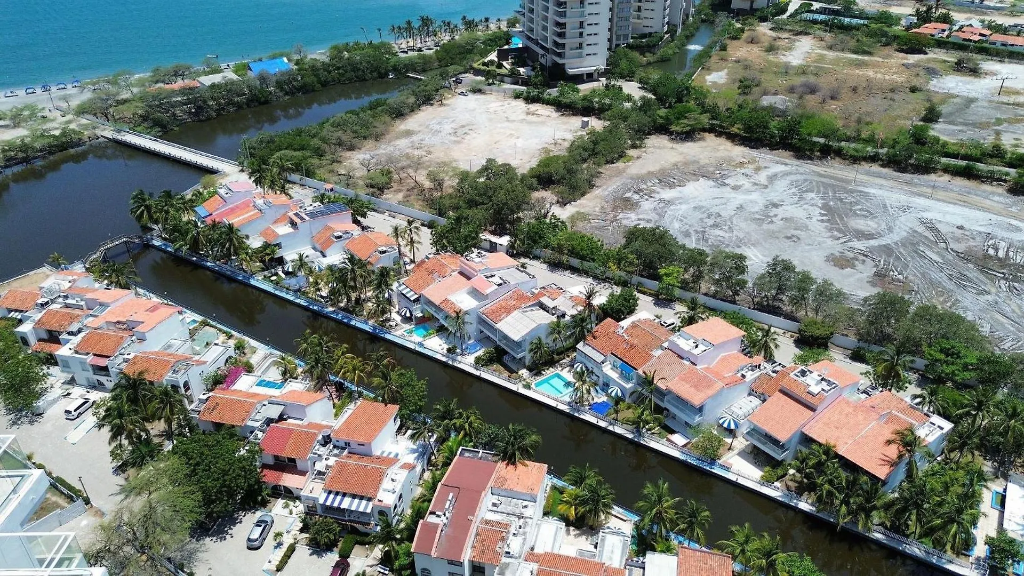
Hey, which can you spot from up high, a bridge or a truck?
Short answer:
bridge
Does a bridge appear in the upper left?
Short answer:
Yes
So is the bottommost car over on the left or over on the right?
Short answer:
left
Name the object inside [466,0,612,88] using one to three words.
building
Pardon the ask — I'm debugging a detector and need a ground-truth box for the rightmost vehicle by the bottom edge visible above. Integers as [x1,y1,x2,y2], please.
[324,553,354,576]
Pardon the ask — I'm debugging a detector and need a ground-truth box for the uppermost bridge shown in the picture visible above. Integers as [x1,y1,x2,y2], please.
[101,123,252,176]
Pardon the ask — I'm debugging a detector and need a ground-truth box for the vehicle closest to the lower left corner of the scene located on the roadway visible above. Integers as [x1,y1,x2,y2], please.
[56,395,97,421]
